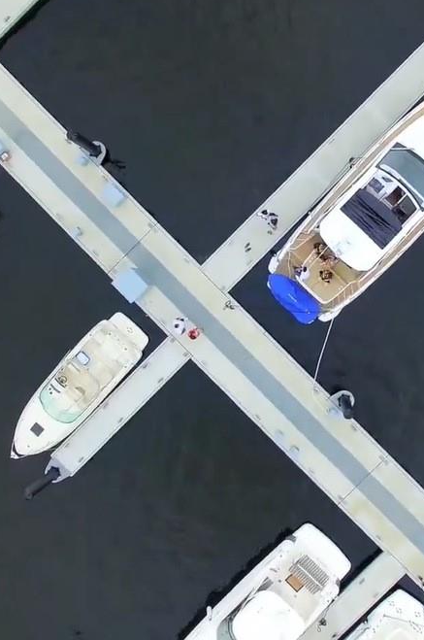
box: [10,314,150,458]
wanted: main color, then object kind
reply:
white boat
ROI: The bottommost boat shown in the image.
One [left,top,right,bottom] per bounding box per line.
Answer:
[343,589,424,640]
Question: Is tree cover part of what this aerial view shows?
No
